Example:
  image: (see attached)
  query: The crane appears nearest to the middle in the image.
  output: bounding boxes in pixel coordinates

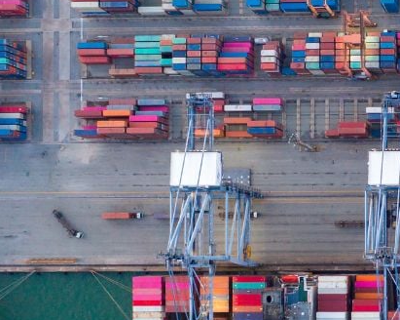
[163,90,272,320]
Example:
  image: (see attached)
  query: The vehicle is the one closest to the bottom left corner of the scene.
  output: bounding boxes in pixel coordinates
[53,209,86,239]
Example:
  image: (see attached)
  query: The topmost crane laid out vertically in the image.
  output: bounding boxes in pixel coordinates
[344,11,376,80]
